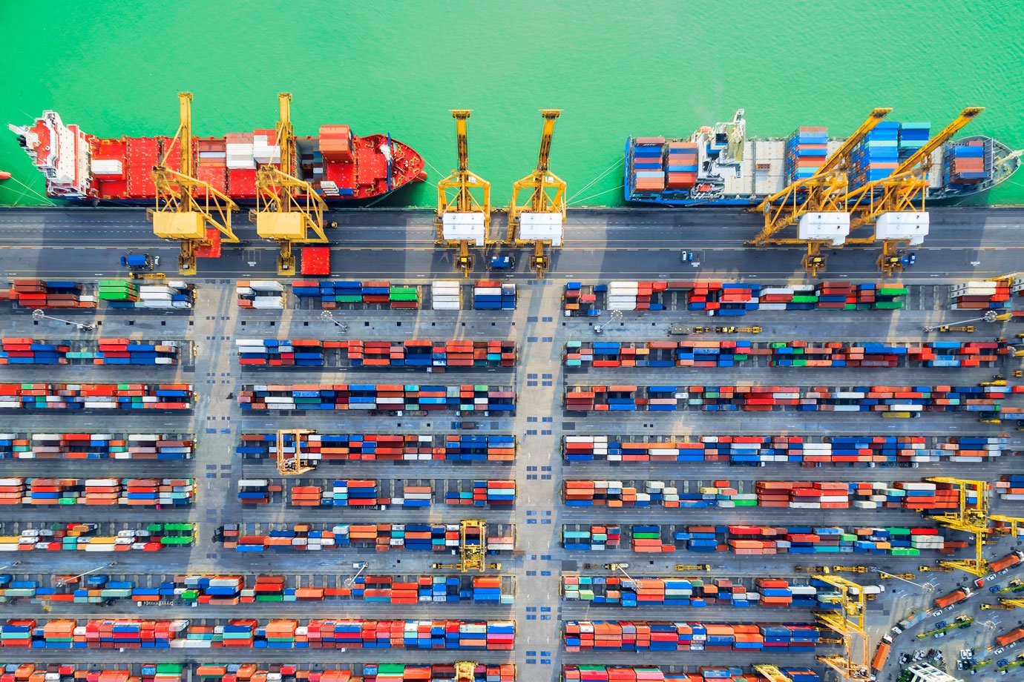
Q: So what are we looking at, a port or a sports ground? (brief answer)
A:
port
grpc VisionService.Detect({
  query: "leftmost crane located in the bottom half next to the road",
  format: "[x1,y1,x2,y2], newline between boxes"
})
[276,425,318,477]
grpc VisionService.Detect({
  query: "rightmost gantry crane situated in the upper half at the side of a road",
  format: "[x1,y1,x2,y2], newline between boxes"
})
[826,108,984,288]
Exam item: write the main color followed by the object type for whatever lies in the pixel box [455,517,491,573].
yellow container crane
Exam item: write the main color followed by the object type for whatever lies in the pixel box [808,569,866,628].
yellow container crane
